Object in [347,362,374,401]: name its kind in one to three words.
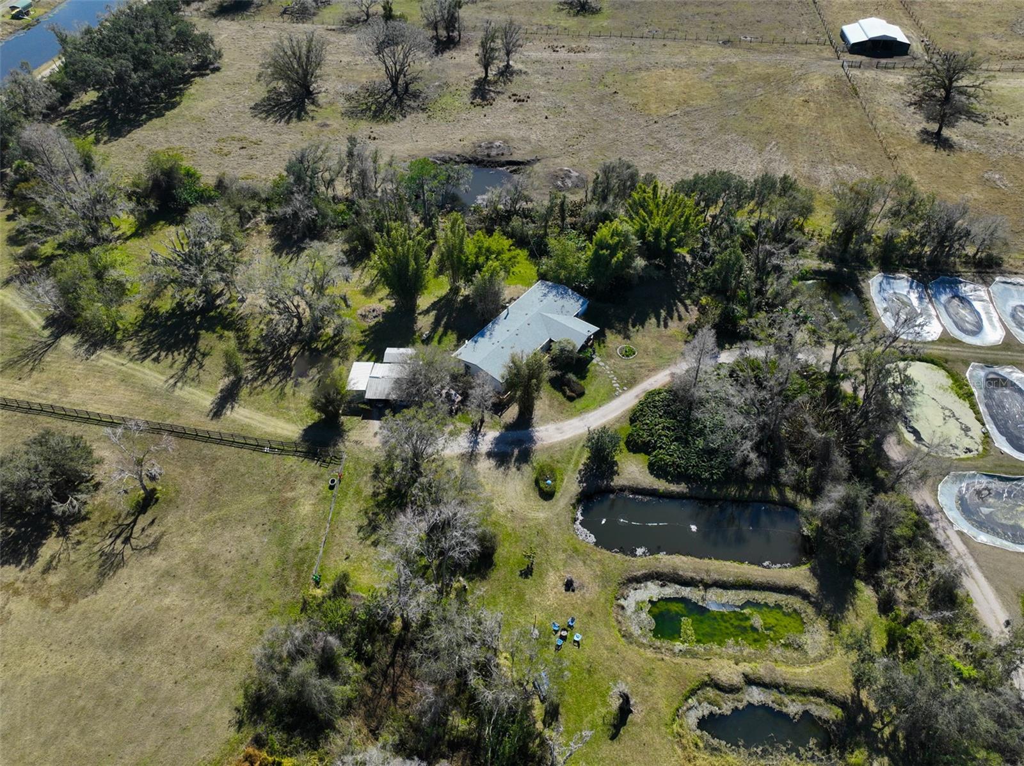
shed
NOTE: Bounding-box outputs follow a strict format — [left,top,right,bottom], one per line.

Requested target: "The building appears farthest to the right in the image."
[840,18,914,55]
